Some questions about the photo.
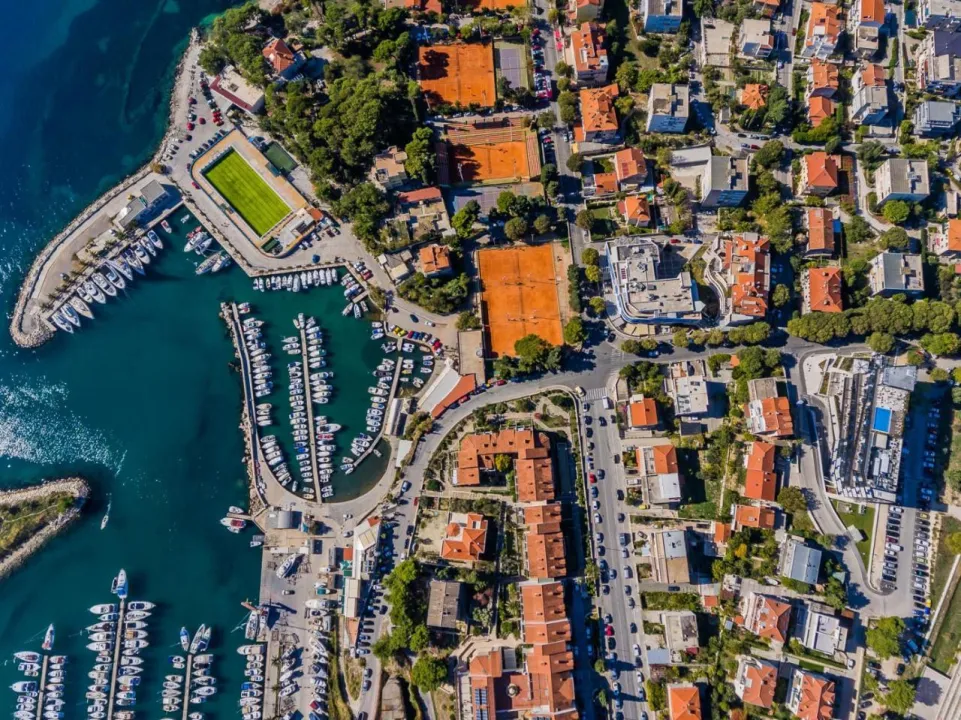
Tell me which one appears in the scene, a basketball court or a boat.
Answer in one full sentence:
The one in the frame is a boat.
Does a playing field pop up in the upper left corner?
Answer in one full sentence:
Yes, the scene does show a playing field in the upper left corner.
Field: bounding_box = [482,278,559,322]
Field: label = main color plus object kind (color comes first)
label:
orange tennis court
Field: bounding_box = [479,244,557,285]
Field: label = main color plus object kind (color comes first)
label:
orange tennis court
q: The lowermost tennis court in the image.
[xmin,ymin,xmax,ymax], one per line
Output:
[485,313,563,357]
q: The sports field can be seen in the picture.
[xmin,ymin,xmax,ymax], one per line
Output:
[189,125,313,258]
